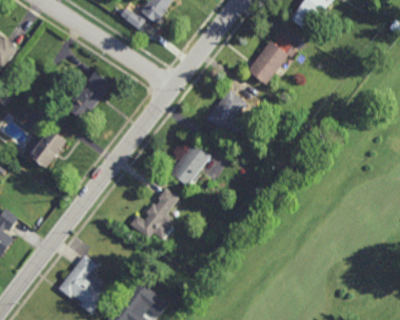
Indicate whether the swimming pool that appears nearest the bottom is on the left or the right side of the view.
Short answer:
left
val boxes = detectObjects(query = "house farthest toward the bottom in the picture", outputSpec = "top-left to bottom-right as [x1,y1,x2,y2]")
[112,286,164,320]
